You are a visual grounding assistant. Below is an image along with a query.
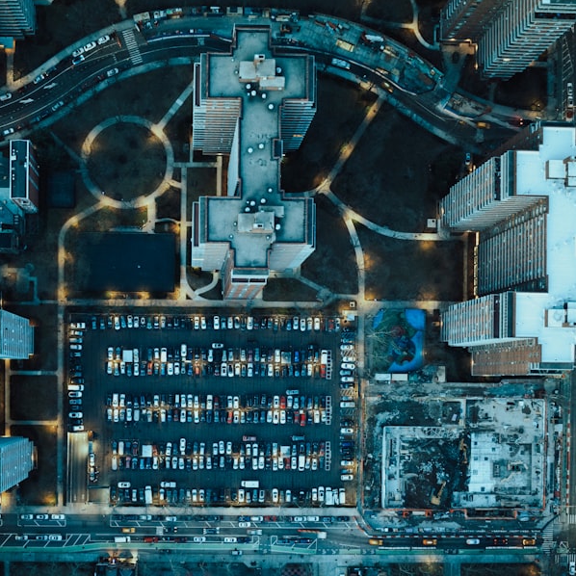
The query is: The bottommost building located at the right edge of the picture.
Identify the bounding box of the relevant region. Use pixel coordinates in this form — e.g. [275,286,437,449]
[438,121,576,375]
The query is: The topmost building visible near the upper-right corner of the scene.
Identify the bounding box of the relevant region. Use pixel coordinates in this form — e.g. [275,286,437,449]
[441,0,576,78]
